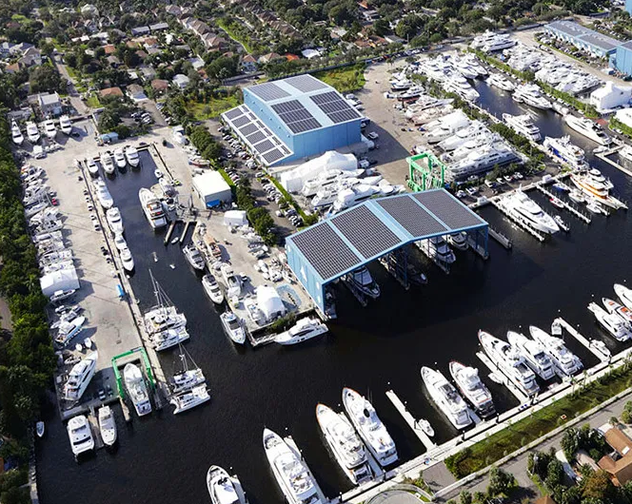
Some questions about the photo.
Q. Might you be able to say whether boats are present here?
Yes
